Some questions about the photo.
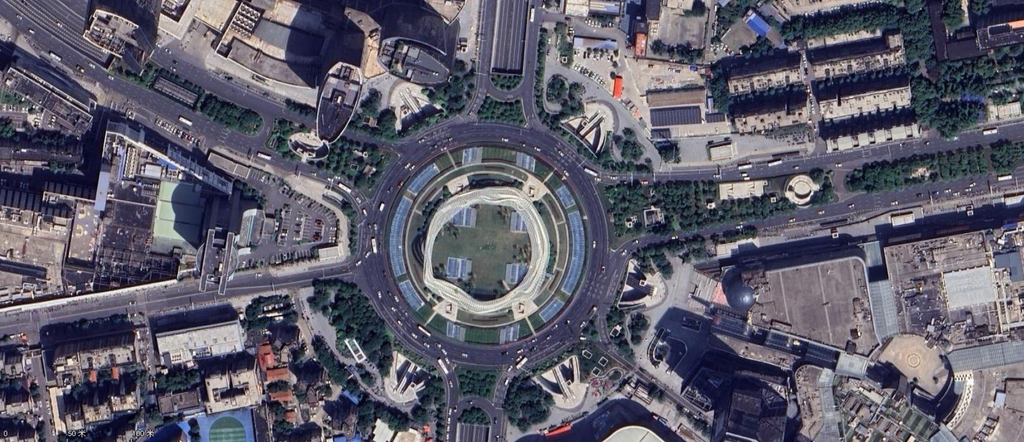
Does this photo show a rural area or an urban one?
urban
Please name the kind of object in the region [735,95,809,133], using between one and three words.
building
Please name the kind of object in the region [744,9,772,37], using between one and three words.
house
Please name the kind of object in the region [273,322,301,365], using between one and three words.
house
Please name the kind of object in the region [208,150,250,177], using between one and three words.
shed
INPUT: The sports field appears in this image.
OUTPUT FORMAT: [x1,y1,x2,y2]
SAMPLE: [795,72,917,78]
[209,417,245,442]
